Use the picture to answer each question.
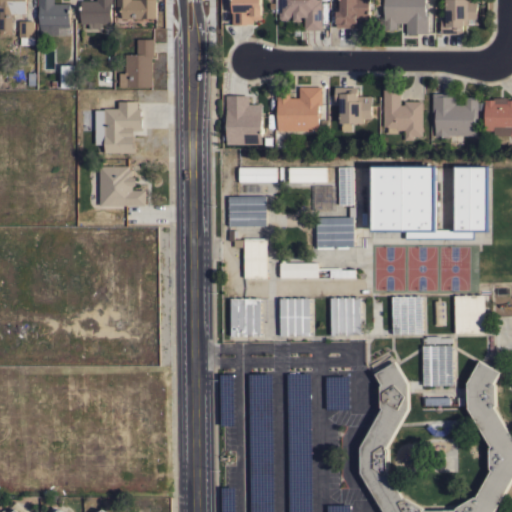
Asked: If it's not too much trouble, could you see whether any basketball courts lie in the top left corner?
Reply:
No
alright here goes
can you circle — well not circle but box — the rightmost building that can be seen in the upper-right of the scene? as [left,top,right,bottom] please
[484,99,512,136]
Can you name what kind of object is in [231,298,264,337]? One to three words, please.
building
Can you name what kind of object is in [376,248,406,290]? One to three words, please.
basketball court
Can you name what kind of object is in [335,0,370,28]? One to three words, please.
house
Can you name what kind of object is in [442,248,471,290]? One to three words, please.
basketball court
